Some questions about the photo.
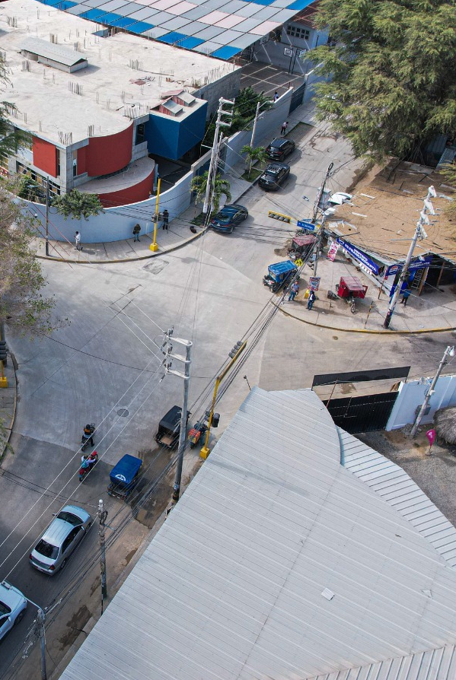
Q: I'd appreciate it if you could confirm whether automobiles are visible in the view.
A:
Yes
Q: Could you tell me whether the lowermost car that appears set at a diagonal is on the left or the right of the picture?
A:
left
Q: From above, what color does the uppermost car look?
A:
black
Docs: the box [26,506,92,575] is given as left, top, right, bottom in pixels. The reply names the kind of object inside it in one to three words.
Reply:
car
